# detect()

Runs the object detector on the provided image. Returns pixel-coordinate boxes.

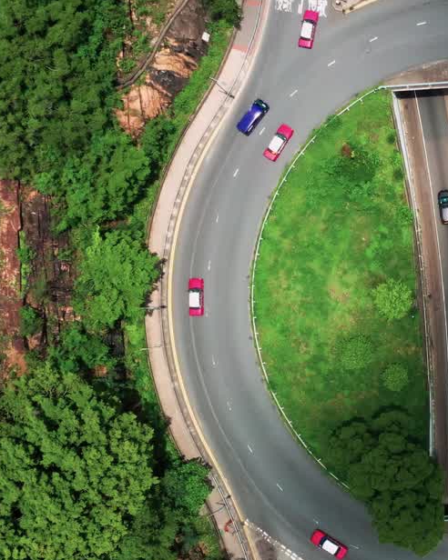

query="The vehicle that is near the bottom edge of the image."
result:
[310,529,349,559]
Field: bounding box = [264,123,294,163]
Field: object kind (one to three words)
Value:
car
